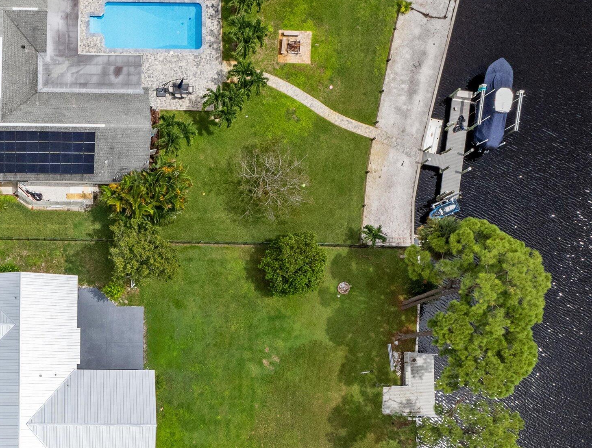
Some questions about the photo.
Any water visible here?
Yes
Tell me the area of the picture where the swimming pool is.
top left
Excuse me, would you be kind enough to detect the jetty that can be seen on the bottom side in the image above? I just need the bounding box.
[382,351,445,417]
